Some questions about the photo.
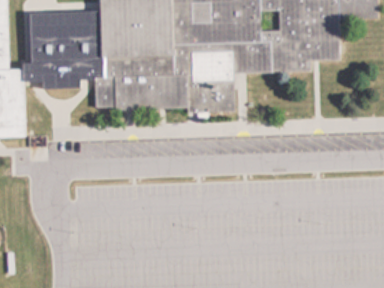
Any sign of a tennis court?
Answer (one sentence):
No, no tennis court is visible in the scene.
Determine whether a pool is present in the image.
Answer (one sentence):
No, the scene contains no pool.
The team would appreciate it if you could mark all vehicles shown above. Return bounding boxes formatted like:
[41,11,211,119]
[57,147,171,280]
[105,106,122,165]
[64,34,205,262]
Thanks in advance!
[67,140,72,152]
[76,141,82,153]
[61,141,66,153]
